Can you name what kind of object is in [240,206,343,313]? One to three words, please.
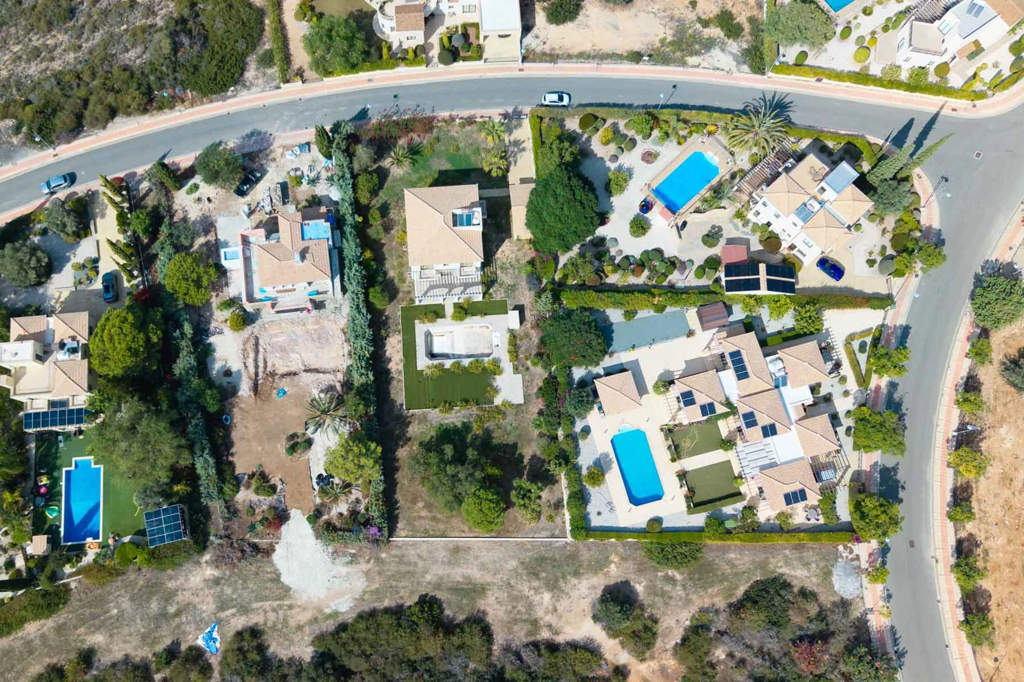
house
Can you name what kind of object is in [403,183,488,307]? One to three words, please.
house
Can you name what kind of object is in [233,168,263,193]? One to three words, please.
car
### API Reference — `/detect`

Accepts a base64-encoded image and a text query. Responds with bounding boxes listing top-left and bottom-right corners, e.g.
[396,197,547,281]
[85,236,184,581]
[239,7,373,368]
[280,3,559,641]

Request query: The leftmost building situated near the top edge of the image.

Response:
[363,0,480,67]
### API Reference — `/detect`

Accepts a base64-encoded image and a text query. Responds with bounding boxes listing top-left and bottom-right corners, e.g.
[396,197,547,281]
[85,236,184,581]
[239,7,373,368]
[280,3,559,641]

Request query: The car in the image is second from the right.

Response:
[542,91,570,106]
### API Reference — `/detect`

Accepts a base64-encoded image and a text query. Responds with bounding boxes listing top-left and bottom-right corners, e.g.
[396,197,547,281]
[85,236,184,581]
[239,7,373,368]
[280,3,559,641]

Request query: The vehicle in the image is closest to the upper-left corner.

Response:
[38,173,72,193]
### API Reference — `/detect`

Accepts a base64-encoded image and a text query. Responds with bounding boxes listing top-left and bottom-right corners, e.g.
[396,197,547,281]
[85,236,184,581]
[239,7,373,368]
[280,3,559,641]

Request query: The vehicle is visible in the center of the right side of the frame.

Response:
[814,257,846,283]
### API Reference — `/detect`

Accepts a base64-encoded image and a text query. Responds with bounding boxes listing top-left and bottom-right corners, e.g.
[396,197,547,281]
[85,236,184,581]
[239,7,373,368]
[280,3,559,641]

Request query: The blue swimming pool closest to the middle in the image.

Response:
[609,424,665,508]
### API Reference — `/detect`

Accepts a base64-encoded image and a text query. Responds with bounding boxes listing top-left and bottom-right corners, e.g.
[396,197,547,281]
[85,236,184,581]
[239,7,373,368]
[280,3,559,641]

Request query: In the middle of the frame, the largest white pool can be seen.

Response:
[422,322,501,363]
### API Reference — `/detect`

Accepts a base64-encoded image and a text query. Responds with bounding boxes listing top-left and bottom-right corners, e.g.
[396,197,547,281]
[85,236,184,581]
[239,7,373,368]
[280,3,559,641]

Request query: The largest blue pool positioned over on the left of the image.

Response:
[60,455,104,546]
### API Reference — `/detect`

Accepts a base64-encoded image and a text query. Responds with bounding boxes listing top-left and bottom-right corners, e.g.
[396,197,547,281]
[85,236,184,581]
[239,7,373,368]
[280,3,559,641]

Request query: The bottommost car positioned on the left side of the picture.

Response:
[100,271,119,302]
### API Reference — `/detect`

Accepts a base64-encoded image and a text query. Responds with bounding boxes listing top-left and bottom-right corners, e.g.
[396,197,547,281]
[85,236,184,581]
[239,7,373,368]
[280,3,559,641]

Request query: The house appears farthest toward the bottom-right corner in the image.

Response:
[675,331,841,509]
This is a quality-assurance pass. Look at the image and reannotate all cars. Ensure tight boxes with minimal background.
[38,173,72,193]
[814,257,846,283]
[542,91,570,106]
[100,271,119,302]
[233,168,263,193]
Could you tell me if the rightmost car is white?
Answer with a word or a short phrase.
No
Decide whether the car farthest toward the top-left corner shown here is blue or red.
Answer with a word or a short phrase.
blue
